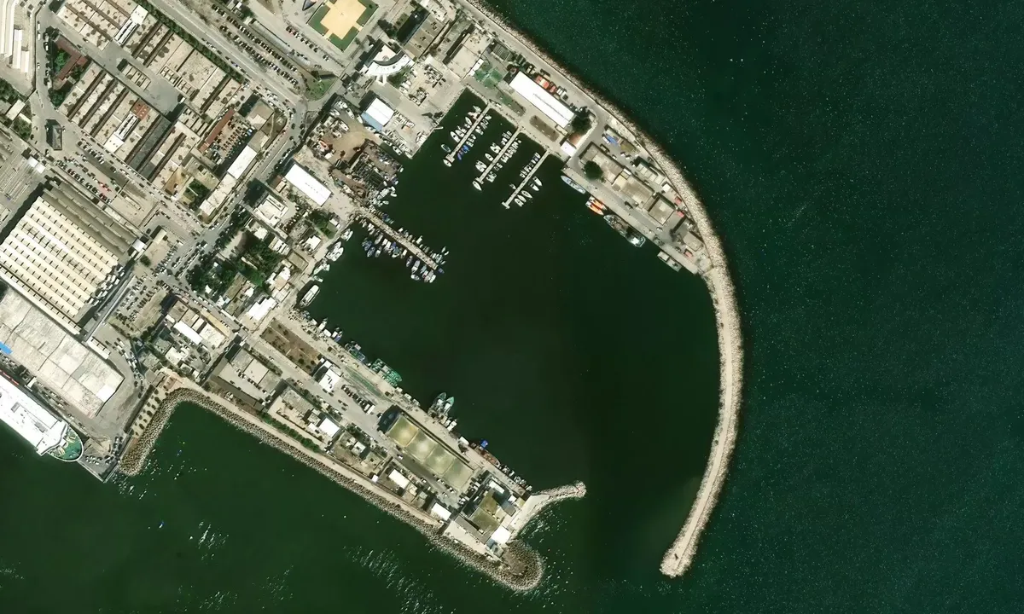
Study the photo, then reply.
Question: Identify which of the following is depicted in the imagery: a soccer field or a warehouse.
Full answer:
This aerial view contains a warehouse.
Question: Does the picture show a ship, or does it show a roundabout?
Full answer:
Looking from above, you can make out a ship.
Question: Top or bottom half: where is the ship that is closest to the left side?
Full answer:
You can find the ship that is closest to the left side in the bottom half.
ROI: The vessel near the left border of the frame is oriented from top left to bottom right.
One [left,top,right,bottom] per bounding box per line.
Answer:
[0,373,80,465]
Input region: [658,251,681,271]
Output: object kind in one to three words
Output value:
ship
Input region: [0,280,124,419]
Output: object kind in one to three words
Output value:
warehouse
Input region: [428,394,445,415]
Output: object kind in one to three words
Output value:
boat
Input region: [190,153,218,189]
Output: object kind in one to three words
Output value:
building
